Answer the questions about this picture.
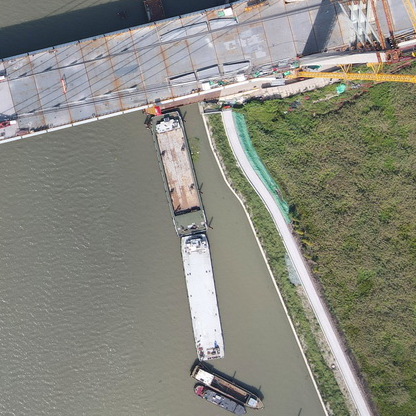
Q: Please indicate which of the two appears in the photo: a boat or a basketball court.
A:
boat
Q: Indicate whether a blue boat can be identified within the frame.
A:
No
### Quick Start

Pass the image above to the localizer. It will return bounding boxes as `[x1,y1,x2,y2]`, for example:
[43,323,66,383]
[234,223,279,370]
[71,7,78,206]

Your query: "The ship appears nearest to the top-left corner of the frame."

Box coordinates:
[154,112,206,237]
